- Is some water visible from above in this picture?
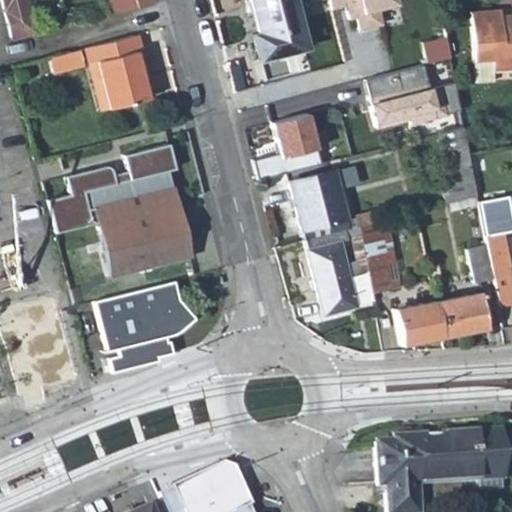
No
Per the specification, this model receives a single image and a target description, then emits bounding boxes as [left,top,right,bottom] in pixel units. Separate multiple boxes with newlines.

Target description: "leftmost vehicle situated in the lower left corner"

[10,432,33,447]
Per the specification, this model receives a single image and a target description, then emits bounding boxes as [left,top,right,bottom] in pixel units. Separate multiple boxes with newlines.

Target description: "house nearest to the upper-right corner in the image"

[466,8,512,84]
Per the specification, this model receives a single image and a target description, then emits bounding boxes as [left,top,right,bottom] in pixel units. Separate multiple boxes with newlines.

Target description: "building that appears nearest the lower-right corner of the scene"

[368,423,512,512]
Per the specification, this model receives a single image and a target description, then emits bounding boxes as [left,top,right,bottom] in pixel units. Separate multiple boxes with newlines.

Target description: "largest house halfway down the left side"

[48,144,194,278]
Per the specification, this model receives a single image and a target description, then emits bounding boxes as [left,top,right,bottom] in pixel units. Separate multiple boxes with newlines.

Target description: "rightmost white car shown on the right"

[337,90,357,102]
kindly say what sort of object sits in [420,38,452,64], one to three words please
house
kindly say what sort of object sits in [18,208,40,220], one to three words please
vehicle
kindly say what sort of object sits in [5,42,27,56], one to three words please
vehicle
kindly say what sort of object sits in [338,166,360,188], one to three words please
shed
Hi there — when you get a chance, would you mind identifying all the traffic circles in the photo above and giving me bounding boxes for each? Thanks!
[244,376,304,422]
